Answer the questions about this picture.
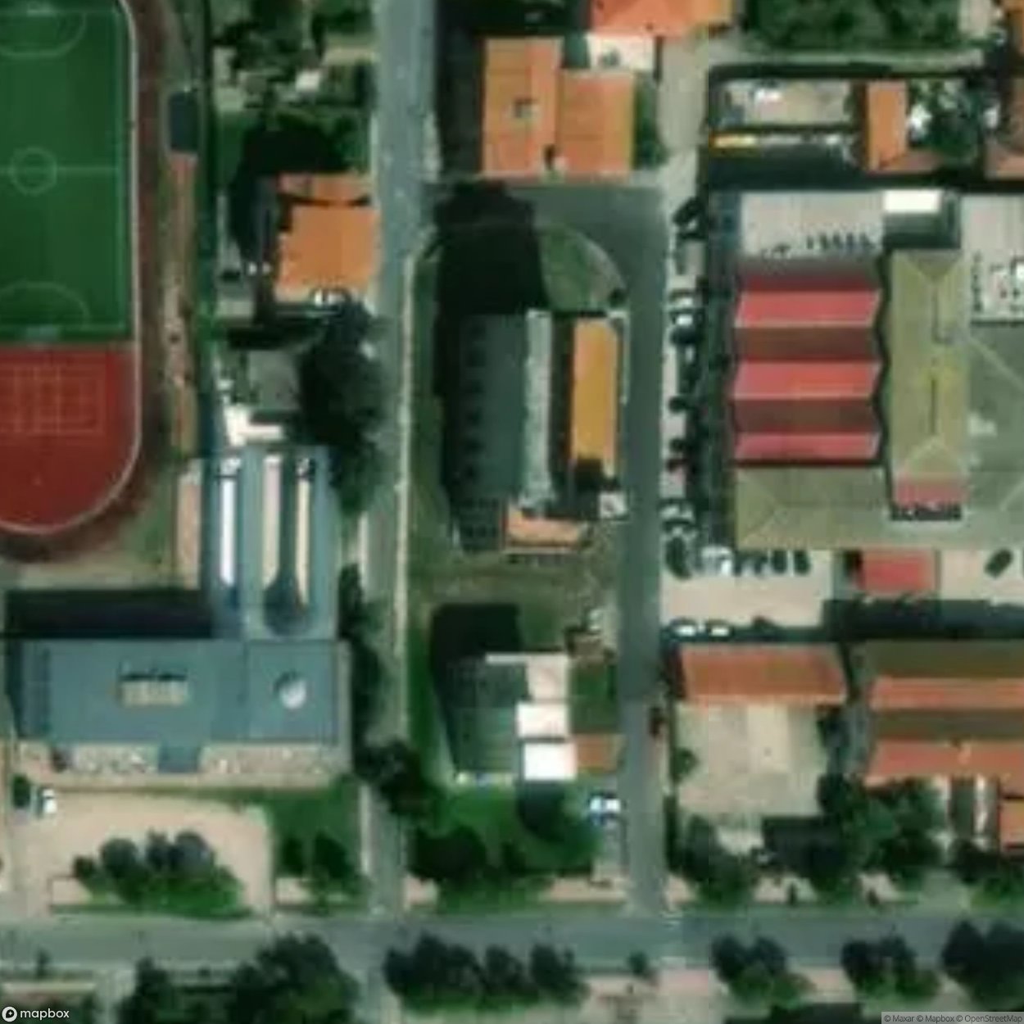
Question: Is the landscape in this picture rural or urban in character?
urban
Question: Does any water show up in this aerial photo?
No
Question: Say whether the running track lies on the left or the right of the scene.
left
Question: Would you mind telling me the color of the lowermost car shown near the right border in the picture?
black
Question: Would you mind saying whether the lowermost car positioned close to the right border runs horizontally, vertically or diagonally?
diagonally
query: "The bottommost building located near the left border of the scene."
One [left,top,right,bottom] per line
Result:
[22,641,336,772]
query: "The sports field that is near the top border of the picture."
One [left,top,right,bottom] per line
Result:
[0,0,133,343]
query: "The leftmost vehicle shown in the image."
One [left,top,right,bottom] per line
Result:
[39,786,57,816]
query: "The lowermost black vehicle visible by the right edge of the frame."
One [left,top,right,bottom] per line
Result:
[984,549,1011,578]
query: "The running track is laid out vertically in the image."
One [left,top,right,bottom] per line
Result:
[0,0,172,568]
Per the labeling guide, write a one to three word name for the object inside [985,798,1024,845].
shed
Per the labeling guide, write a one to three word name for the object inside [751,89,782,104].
car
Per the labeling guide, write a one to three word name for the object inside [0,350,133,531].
sports court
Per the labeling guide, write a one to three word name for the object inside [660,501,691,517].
car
